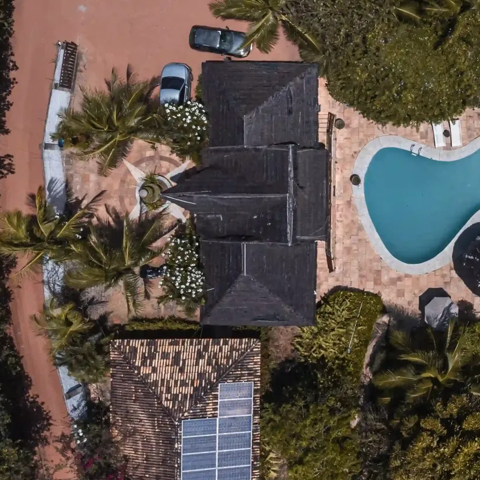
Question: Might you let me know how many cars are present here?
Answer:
2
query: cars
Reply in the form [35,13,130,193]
[159,61,195,120]
[190,26,251,57]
